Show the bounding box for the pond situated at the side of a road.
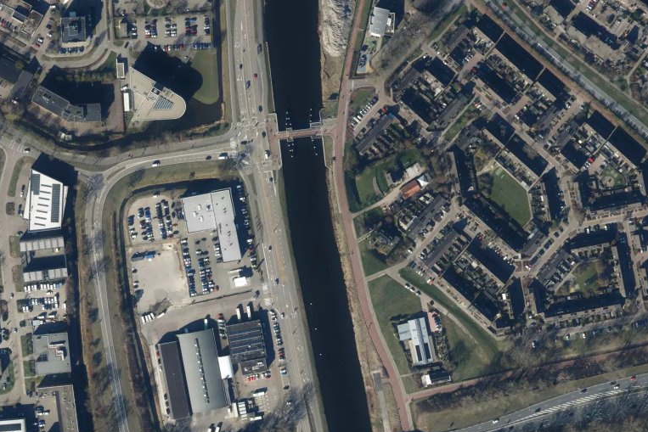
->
[154,0,222,129]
